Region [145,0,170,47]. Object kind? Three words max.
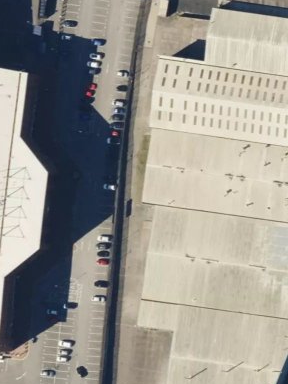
shed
